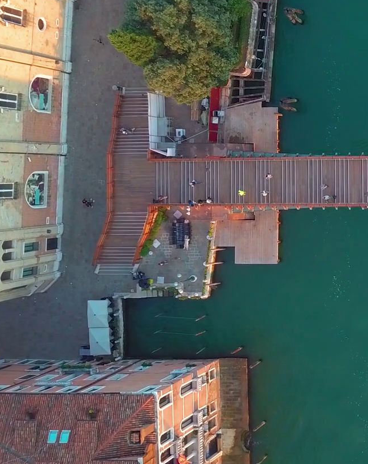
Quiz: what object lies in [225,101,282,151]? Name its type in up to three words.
pier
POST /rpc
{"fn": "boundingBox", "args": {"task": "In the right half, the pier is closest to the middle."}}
[217,212,282,263]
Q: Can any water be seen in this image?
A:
Yes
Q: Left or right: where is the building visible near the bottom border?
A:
left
